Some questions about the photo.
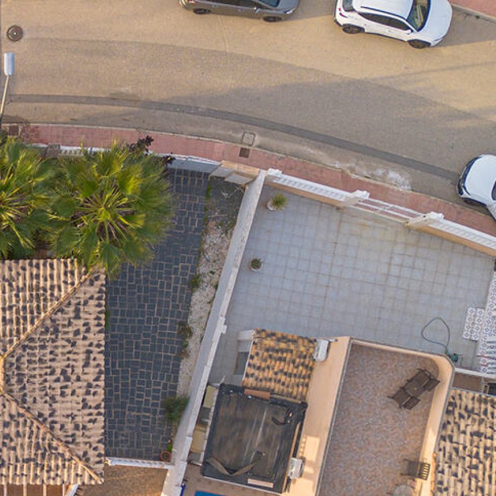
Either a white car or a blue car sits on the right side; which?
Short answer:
white car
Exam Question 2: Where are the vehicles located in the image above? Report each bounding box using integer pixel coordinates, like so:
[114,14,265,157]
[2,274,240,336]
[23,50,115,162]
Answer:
[460,156,496,214]
[179,0,300,22]
[340,0,458,49]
